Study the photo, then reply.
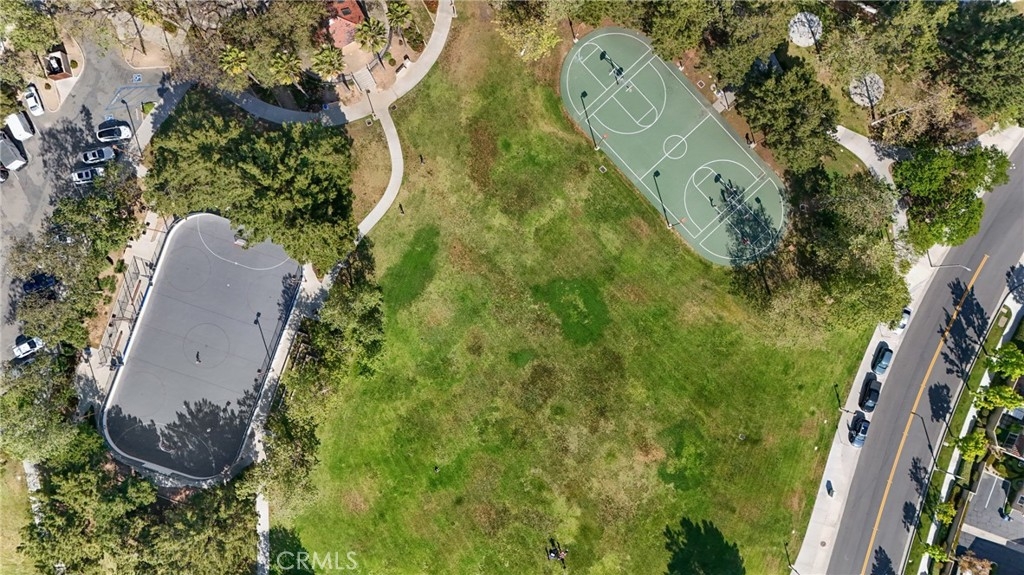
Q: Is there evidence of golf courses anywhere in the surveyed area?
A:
No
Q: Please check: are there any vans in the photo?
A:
Yes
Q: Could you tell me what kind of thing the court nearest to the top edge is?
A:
basketball court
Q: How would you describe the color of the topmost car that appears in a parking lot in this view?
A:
white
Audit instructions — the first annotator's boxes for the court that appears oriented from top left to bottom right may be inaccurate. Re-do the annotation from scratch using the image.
[559,25,791,268]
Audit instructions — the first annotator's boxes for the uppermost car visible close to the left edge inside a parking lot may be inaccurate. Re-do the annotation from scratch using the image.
[22,84,44,115]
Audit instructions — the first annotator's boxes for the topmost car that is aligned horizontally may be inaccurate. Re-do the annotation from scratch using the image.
[99,123,132,139]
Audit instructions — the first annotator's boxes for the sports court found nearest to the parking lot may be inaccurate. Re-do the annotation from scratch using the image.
[101,209,307,484]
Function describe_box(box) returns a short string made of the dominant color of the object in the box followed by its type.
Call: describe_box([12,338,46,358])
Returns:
white car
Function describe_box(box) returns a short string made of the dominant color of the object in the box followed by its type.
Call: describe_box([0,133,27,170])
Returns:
gray vehicle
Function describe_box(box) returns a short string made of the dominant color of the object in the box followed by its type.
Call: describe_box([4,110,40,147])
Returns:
white van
